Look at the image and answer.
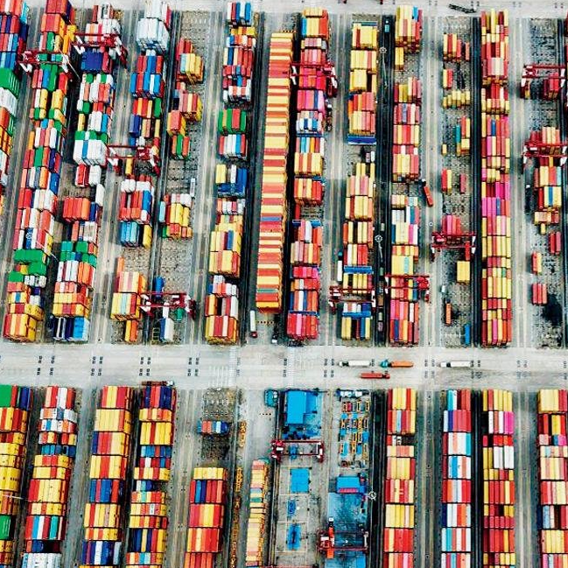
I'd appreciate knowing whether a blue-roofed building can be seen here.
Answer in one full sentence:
Yes, a blue-roofed building can be made out from above.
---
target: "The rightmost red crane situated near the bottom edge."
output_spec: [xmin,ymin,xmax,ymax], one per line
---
[315,525,368,558]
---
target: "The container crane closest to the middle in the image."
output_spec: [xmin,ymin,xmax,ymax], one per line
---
[326,285,375,317]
